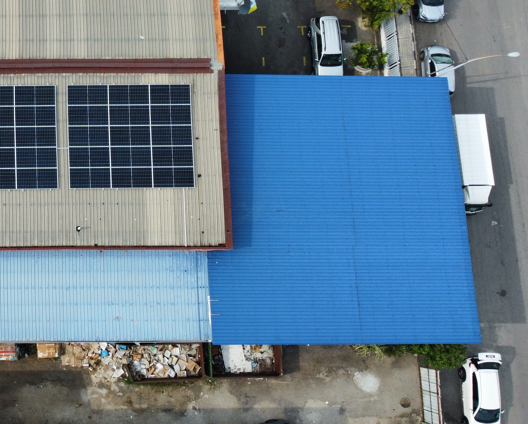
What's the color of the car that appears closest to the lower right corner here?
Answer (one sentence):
The color of the car that appears closest to the lower right corner is white.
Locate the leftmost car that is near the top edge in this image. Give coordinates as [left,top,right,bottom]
[311,20,352,75]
